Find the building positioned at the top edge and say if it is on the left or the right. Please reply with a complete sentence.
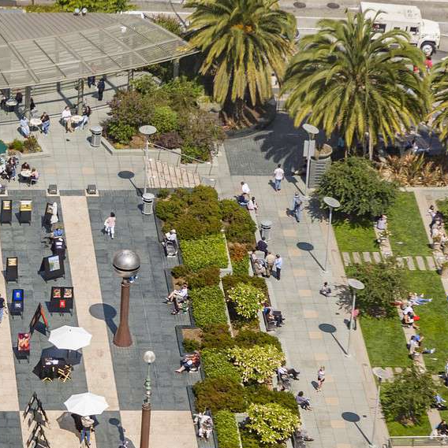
It is on the left.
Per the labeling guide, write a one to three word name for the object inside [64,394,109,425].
umbrella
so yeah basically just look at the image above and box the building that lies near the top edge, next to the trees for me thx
[0,6,197,120]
